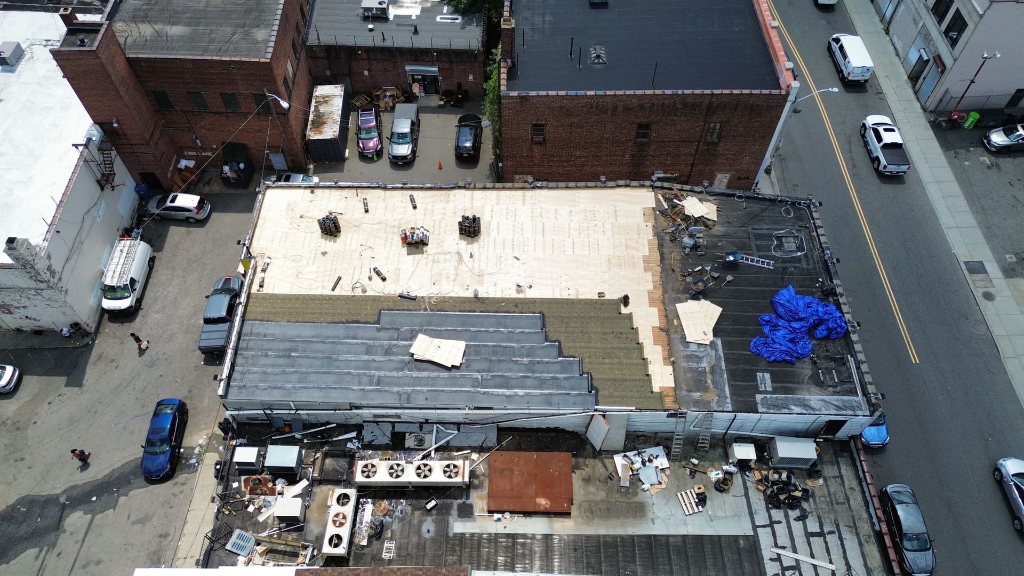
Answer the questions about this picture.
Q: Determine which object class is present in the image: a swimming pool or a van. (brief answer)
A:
van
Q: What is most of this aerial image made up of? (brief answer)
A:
buildings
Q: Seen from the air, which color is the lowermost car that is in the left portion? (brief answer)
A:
blue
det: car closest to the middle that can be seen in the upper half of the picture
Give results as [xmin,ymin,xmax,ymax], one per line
[454,118,483,165]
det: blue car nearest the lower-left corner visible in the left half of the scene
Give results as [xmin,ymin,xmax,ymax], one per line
[138,397,191,483]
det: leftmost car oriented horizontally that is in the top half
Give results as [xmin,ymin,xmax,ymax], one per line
[145,193,216,226]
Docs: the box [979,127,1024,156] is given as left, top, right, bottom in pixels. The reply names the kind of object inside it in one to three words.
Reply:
car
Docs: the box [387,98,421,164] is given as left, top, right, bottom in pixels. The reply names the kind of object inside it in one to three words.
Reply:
truck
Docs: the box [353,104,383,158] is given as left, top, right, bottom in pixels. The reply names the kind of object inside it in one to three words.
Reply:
car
